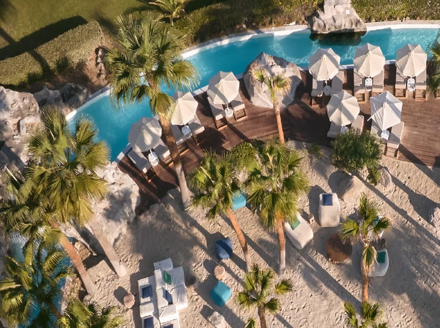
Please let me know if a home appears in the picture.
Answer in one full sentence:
No, no home can be seen from above.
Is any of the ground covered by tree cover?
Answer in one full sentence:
Yes, some tree cover is visible.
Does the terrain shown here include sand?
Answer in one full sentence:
Yes, sand shows up in the scene.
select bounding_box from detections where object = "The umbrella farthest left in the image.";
[130,116,164,156]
